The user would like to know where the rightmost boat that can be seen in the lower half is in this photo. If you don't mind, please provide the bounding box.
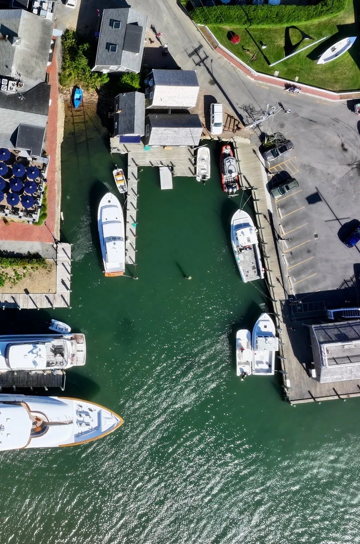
[252,313,277,375]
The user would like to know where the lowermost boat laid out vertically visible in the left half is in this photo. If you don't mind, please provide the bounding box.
[96,192,126,278]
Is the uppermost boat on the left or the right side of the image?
right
